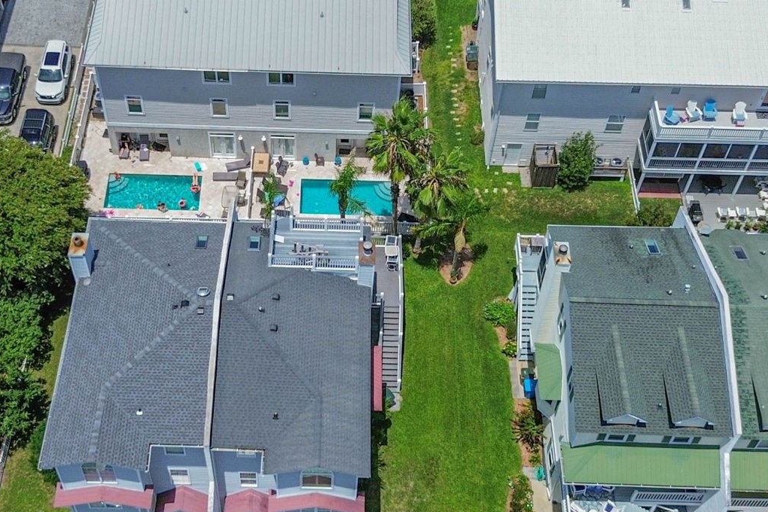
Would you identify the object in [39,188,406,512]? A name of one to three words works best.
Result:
house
